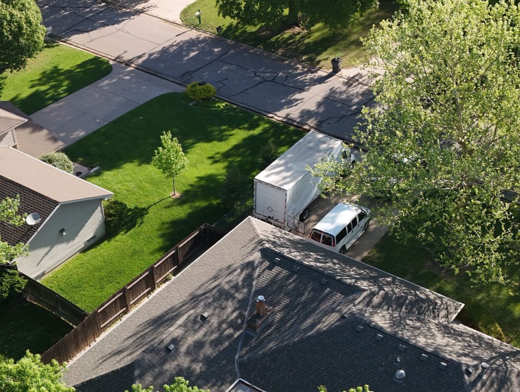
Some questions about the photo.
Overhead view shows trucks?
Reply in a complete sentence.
Yes, the frame does contain a truck.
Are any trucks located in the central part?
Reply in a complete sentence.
Yes, I can see a truck in the central part.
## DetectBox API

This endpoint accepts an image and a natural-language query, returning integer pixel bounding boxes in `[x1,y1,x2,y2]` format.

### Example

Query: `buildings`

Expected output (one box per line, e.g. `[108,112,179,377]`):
[39,214,520,392]
[0,100,116,283]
